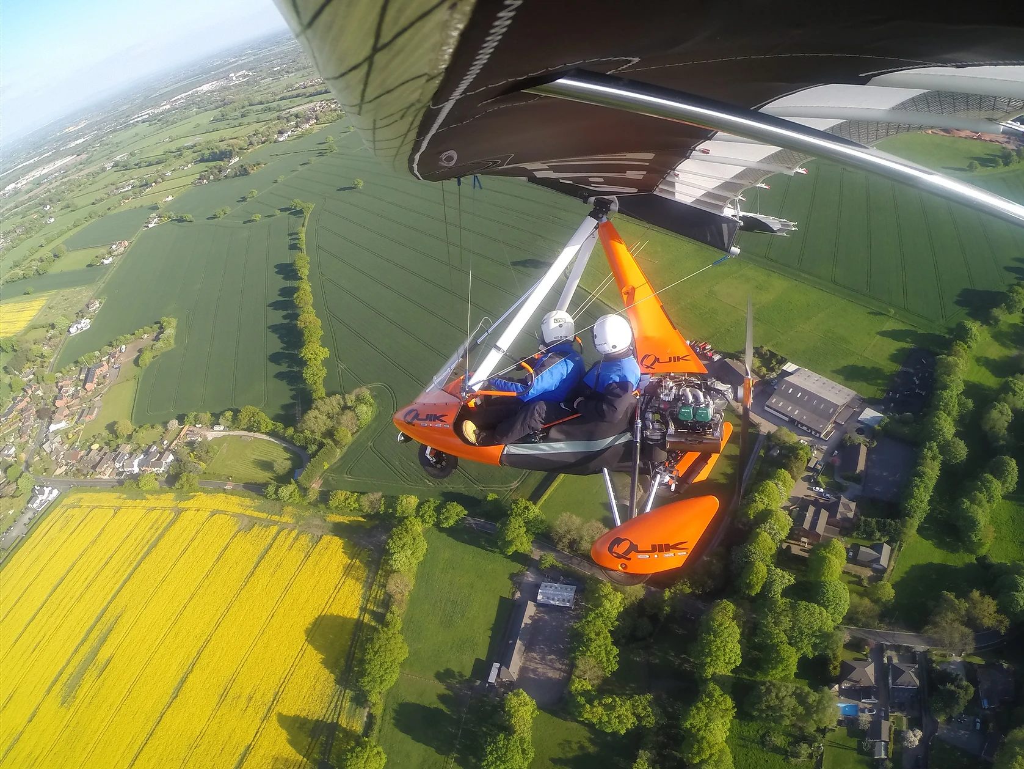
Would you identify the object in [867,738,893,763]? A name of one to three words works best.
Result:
shed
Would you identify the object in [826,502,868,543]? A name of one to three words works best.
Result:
house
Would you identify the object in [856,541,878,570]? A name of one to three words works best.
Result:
building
